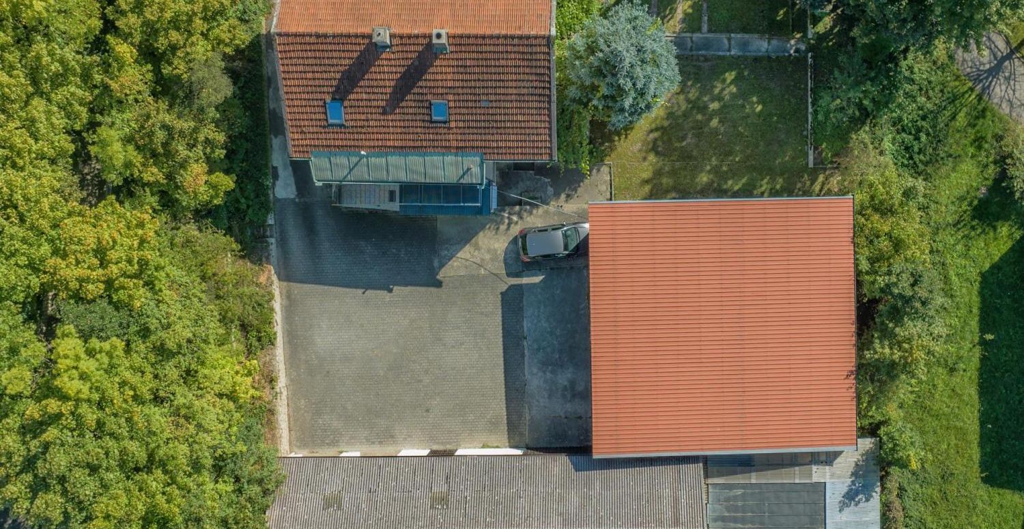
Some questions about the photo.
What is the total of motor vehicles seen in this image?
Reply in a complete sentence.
There is 1 motor vehicle in the image.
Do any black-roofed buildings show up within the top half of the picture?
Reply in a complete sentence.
No, no black-roofed building can be made out within the top half of the picture.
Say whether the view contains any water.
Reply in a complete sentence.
No, there is no water in the image.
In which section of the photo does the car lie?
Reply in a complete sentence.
Look in the center portion of the view to spot the car.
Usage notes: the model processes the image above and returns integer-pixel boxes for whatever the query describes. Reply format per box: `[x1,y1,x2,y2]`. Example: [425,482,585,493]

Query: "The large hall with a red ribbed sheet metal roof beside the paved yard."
[589,195,858,458]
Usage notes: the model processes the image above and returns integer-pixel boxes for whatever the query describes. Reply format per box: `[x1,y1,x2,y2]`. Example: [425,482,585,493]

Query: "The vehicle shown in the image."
[517,224,589,264]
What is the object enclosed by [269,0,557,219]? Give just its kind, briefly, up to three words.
house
